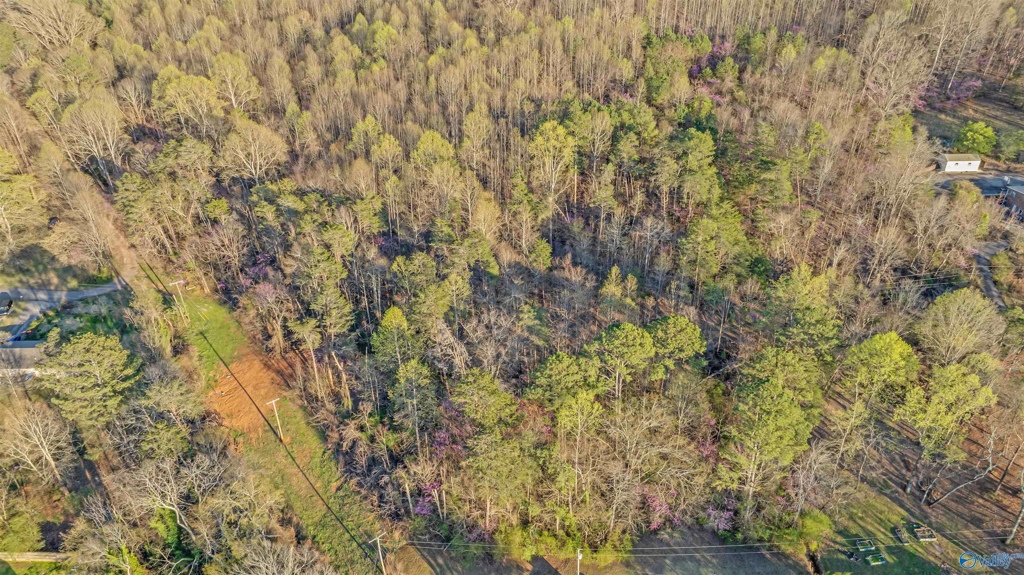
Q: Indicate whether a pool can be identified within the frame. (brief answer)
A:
No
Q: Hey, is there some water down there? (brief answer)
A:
No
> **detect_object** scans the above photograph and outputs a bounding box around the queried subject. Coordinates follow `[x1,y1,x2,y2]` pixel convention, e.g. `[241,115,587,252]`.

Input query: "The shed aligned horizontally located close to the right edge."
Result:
[937,154,985,172]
